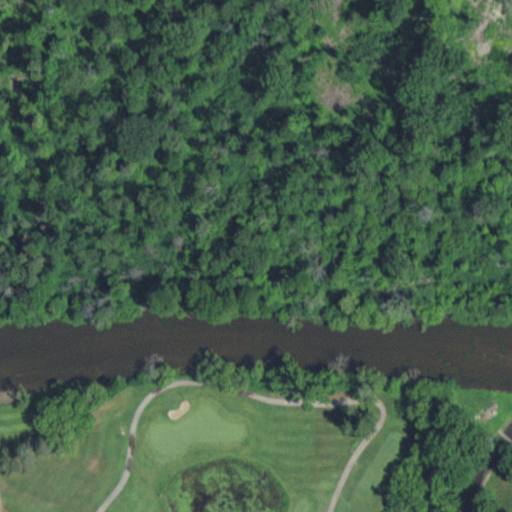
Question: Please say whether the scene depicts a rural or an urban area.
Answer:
rural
